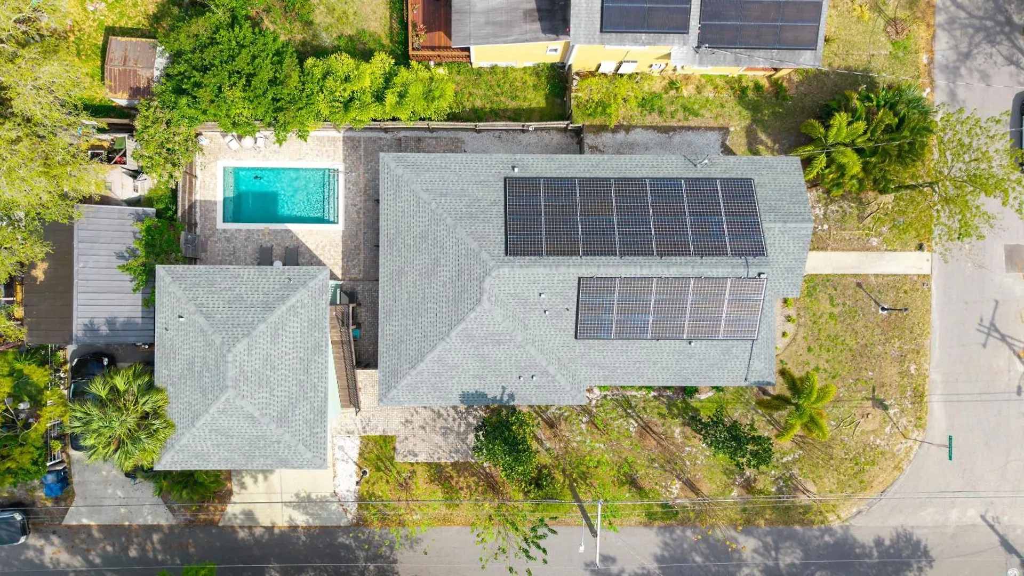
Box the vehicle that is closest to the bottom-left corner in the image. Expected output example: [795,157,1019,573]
[0,505,36,545]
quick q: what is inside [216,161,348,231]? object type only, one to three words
swimming pool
